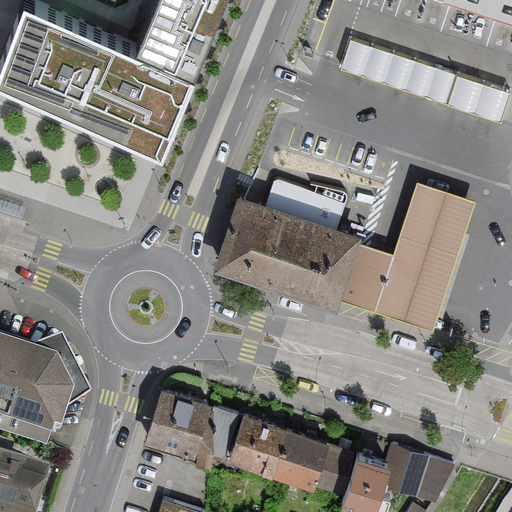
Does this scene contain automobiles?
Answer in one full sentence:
Yes, the frame does contain an automobile.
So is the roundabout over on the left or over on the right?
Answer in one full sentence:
The roundabout sits on the left side.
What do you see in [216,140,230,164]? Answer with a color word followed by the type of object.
white car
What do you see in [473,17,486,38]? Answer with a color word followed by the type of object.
white vehicle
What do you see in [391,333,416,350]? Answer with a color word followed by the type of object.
white vehicle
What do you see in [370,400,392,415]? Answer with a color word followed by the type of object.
white car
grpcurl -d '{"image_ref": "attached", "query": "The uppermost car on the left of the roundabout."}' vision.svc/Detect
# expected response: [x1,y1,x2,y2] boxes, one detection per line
[15,266,38,280]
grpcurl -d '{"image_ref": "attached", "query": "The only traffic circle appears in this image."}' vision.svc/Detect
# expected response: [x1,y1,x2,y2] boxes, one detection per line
[80,242,212,371]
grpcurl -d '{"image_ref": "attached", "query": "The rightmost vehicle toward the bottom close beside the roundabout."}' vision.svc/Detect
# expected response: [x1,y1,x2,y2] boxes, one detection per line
[213,302,236,318]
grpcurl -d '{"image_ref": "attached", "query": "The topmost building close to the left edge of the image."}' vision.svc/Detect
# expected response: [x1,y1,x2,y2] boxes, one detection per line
[0,0,194,166]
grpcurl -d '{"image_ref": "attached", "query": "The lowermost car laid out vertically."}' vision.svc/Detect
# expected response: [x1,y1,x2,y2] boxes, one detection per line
[116,426,128,448]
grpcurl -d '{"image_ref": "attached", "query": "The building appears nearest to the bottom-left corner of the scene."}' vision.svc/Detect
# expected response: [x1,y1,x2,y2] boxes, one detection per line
[0,443,51,512]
